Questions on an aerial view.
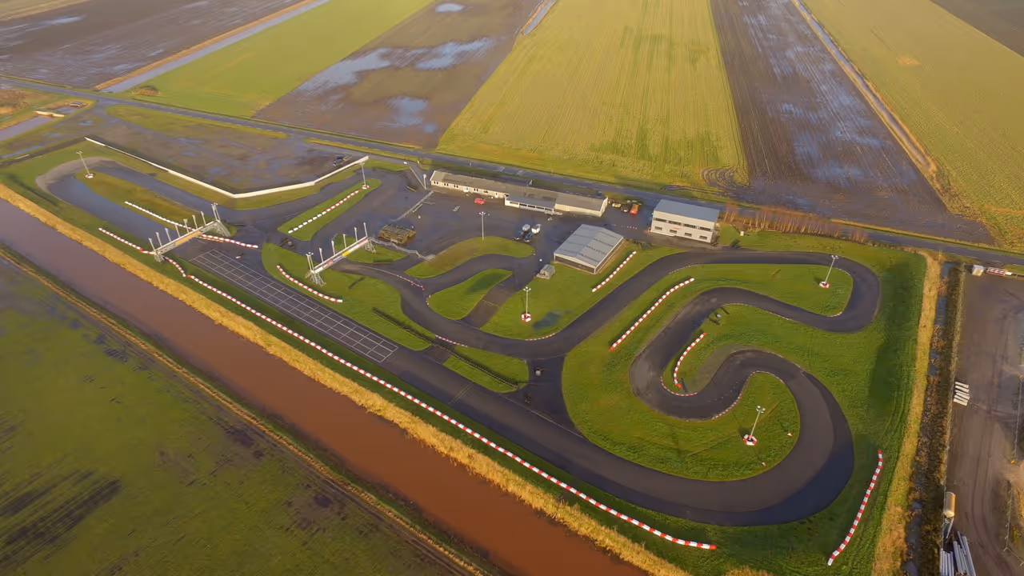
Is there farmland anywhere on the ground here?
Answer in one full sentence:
Yes, there is farmland in the image.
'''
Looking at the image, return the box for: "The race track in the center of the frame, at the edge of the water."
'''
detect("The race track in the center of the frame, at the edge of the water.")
[49,163,880,526]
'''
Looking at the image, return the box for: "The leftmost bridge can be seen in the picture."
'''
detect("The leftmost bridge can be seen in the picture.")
[151,207,232,265]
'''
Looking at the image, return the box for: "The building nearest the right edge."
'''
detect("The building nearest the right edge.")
[652,193,721,243]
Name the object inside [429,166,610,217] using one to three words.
house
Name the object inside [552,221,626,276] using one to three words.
building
